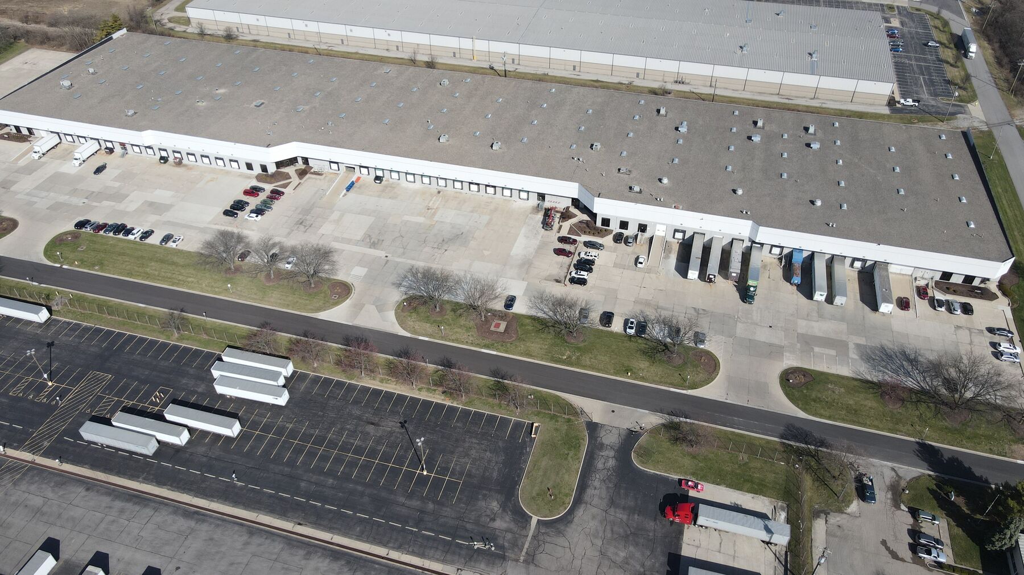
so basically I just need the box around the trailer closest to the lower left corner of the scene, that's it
[17,549,58,575]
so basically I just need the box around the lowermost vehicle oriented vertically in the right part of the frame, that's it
[860,468,878,505]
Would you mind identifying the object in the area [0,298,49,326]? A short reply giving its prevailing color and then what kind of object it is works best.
white trailer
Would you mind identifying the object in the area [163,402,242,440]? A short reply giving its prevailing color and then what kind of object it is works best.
white trailer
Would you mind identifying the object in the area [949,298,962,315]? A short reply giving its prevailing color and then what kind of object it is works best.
gray vehicle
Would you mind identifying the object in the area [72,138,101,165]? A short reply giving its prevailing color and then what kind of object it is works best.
white truck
